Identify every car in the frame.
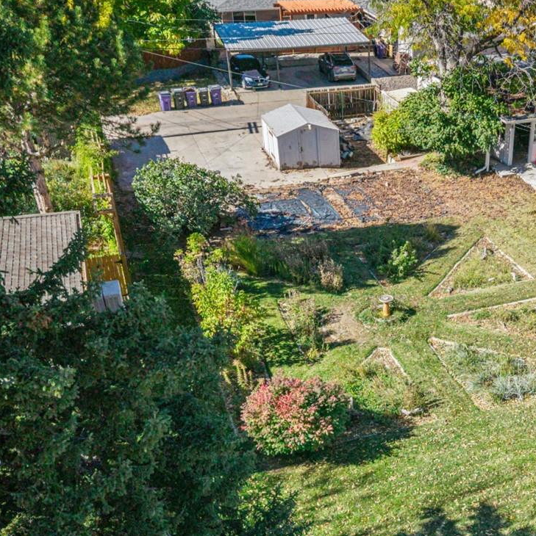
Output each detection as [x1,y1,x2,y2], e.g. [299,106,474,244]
[321,52,358,79]
[236,55,271,87]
